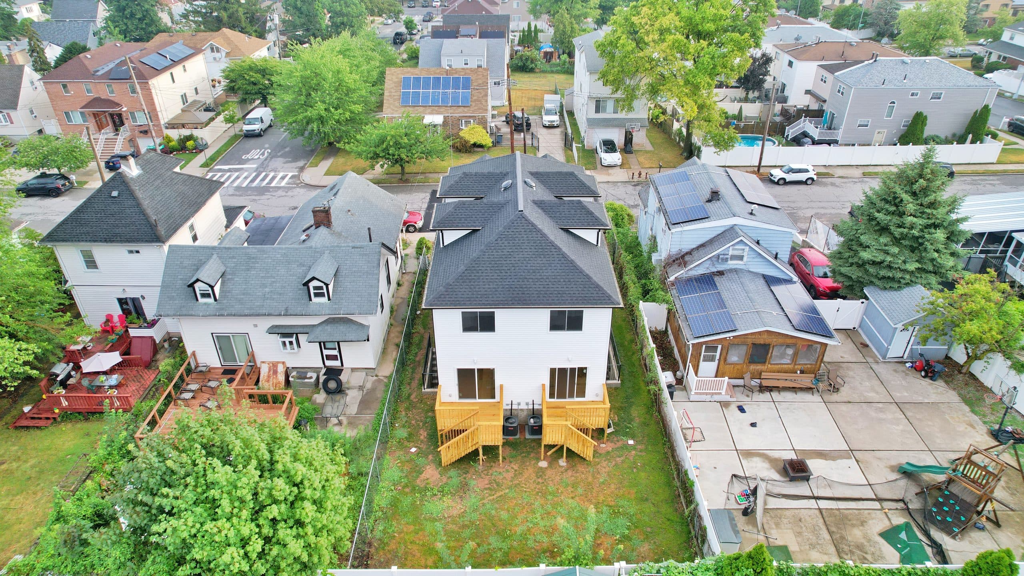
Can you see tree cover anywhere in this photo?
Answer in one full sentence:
Yes, the picture does contain tree cover.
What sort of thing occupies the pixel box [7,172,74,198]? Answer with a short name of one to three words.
car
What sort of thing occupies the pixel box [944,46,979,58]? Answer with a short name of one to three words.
vehicle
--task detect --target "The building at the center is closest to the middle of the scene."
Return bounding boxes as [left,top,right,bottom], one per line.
[418,149,627,423]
